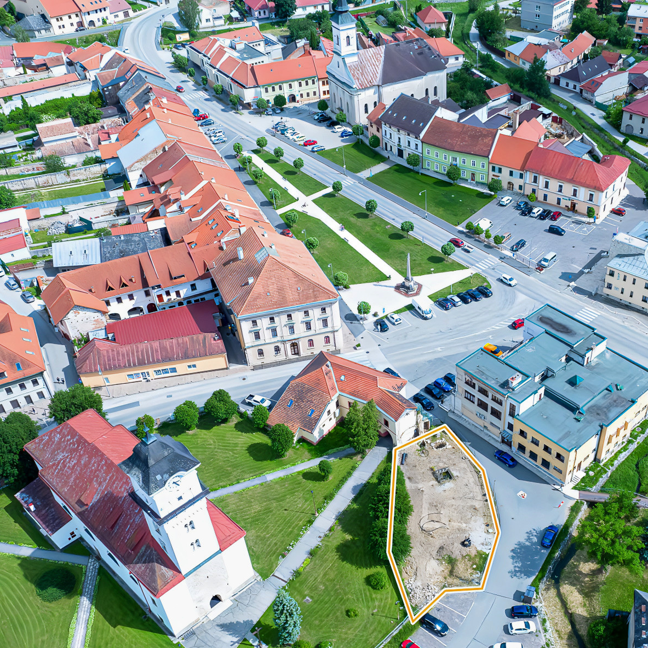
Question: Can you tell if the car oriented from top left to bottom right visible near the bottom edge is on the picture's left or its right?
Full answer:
The car oriented from top left to bottom right visible near the bottom edge appears in the right half of the scene.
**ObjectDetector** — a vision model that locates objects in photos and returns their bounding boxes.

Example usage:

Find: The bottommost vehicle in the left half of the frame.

[245,392,273,408]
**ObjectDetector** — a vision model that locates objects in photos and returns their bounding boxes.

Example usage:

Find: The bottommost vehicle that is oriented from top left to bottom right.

[418,610,451,638]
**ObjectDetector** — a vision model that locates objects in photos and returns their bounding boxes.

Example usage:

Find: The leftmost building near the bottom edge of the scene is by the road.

[0,408,258,640]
